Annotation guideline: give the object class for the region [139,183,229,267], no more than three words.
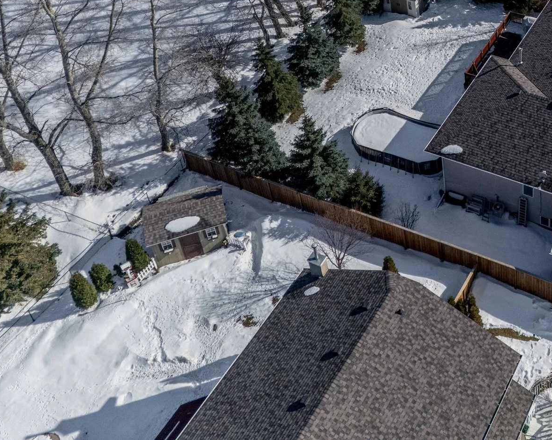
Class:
shed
